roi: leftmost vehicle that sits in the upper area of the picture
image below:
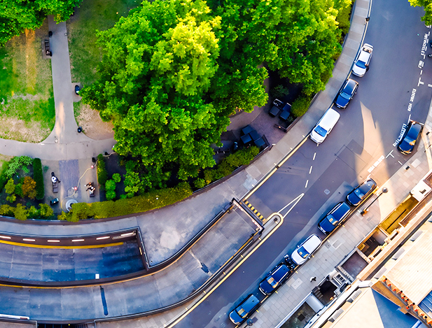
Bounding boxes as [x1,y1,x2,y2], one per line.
[311,106,341,143]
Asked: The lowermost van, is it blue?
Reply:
Yes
